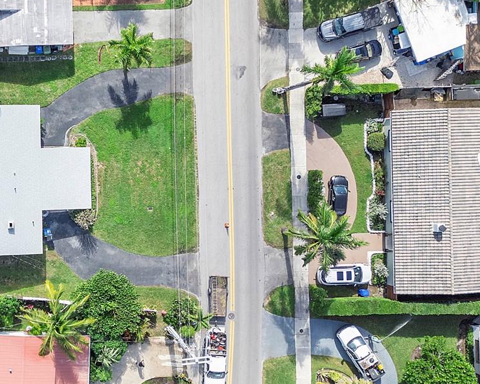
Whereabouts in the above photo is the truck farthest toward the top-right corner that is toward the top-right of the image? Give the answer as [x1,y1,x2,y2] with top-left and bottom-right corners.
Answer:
[384,26,408,53]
